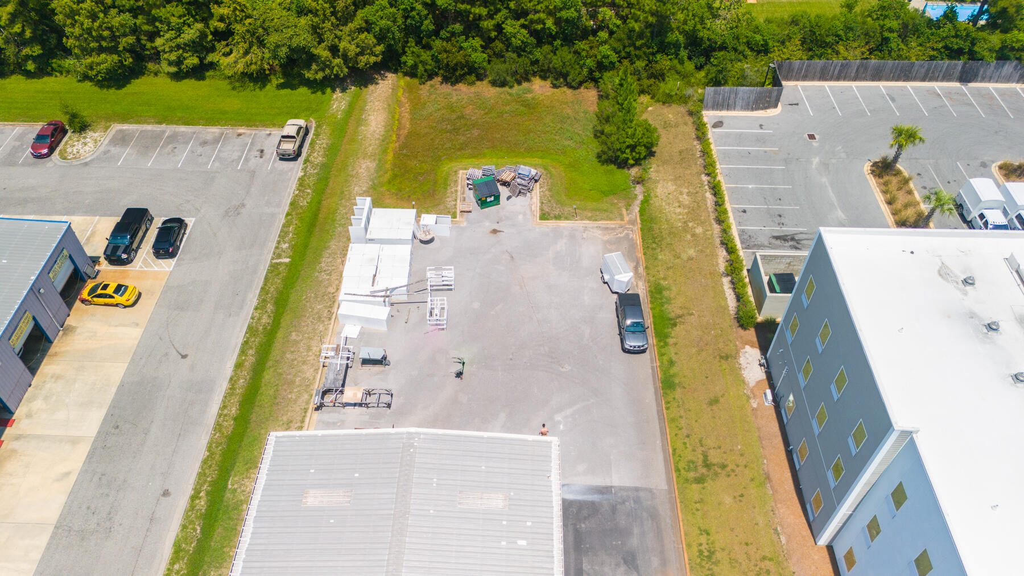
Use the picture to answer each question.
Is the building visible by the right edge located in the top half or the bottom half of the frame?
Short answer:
bottom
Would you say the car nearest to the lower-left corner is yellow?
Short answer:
Yes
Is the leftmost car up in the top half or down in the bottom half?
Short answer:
top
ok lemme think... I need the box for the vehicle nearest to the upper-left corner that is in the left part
[25,120,65,157]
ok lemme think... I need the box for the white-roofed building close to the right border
[765,228,1024,576]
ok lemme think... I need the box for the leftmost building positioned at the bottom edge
[231,430,566,576]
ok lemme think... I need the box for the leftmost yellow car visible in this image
[72,277,141,307]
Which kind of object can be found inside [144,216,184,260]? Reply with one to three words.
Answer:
car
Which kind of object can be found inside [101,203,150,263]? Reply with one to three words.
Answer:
truck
